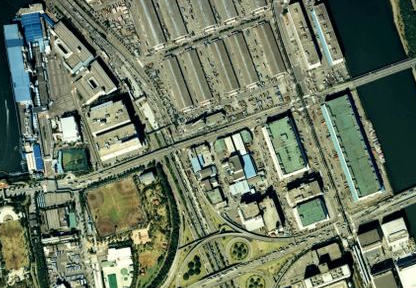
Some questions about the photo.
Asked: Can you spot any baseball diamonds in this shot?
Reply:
Yes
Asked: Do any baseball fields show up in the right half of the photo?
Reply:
No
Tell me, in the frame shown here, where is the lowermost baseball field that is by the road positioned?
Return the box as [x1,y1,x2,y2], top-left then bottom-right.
[88,175,148,237]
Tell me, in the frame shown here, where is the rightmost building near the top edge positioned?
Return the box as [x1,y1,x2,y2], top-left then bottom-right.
[312,2,345,66]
